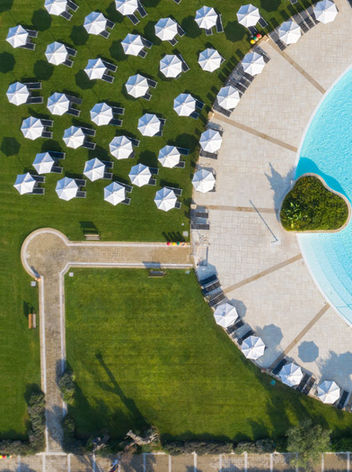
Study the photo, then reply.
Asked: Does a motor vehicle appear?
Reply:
No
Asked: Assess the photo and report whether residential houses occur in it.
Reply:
No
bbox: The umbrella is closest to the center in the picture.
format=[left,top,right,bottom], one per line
[155,188,179,211]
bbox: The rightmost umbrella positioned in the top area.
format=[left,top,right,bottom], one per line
[314,0,338,23]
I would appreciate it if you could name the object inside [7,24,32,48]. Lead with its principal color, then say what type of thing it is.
white umbrella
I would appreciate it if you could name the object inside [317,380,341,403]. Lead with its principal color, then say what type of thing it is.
white umbrella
